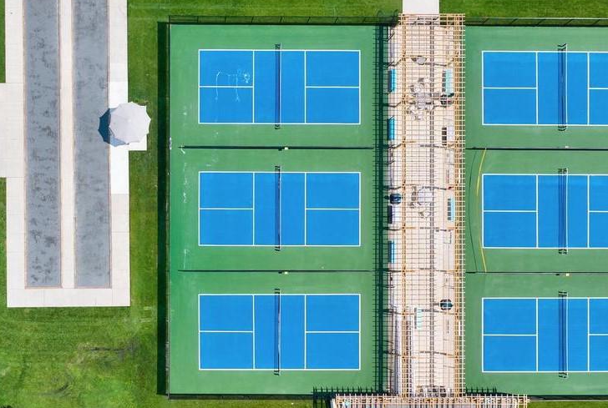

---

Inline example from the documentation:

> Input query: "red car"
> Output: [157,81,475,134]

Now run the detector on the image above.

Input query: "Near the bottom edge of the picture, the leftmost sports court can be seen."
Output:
[171,271,388,395]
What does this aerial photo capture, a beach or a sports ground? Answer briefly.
sports ground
